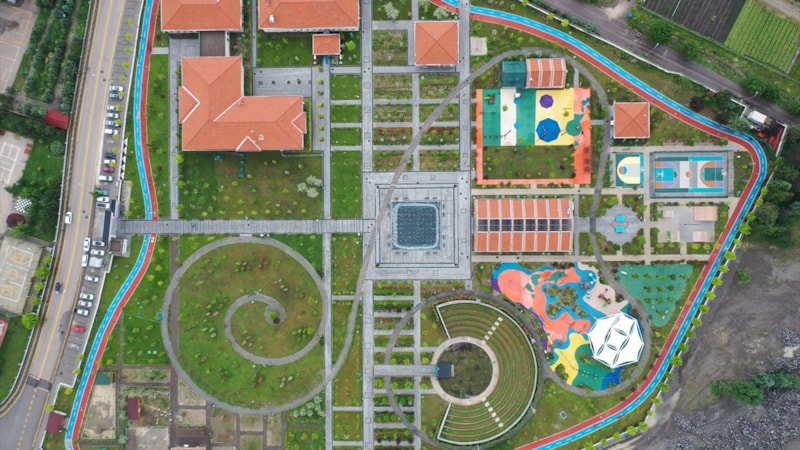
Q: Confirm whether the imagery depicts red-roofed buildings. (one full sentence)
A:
Yes, the photo shows a red-roofed building.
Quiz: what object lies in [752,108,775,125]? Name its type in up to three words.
vehicle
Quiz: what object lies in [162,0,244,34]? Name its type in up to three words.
house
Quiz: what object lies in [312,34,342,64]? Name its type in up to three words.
building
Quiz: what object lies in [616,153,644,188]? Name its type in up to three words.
basketball court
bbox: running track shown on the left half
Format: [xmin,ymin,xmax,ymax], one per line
[66,0,160,438]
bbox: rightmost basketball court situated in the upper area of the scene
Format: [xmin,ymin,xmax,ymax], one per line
[651,152,731,198]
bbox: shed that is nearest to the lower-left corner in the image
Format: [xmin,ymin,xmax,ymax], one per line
[47,410,70,434]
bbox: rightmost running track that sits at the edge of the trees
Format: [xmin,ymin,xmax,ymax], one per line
[425,0,770,450]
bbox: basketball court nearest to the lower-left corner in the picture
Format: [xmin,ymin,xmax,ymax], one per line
[0,234,43,314]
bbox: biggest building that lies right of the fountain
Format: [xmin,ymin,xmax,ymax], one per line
[475,198,576,252]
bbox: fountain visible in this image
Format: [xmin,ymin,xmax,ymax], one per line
[376,183,459,267]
